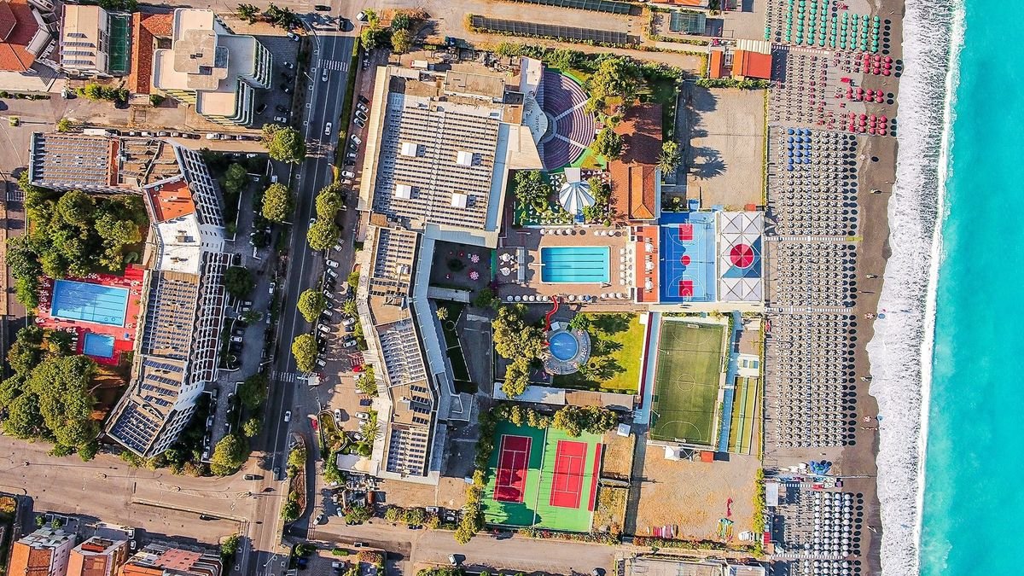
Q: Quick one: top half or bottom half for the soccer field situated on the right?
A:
bottom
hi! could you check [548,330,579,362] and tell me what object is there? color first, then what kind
blue swimming pool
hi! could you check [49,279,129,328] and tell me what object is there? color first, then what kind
blue swimming pool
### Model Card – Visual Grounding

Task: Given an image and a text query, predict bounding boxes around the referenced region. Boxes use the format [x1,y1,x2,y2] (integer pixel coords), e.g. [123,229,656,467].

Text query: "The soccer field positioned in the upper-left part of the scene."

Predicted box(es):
[108,13,130,75]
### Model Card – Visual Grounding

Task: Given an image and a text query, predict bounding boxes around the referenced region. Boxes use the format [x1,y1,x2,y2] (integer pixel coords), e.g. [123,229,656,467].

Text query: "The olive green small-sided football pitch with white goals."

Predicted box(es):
[650,320,725,446]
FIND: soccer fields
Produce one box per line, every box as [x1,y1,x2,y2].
[650,320,725,446]
[108,13,130,75]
